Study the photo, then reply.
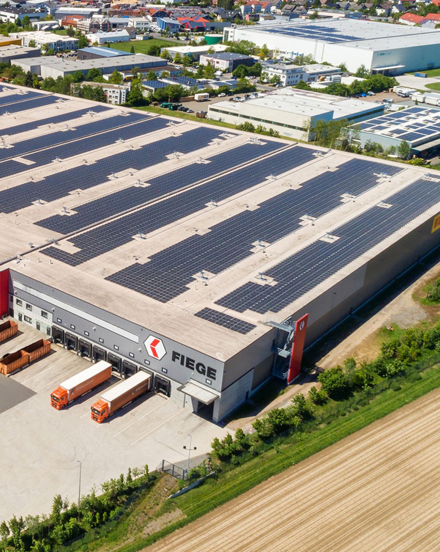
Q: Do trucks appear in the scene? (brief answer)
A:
Yes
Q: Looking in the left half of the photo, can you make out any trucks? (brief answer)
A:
Yes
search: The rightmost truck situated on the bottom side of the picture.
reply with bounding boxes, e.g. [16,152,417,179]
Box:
[92,370,153,423]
